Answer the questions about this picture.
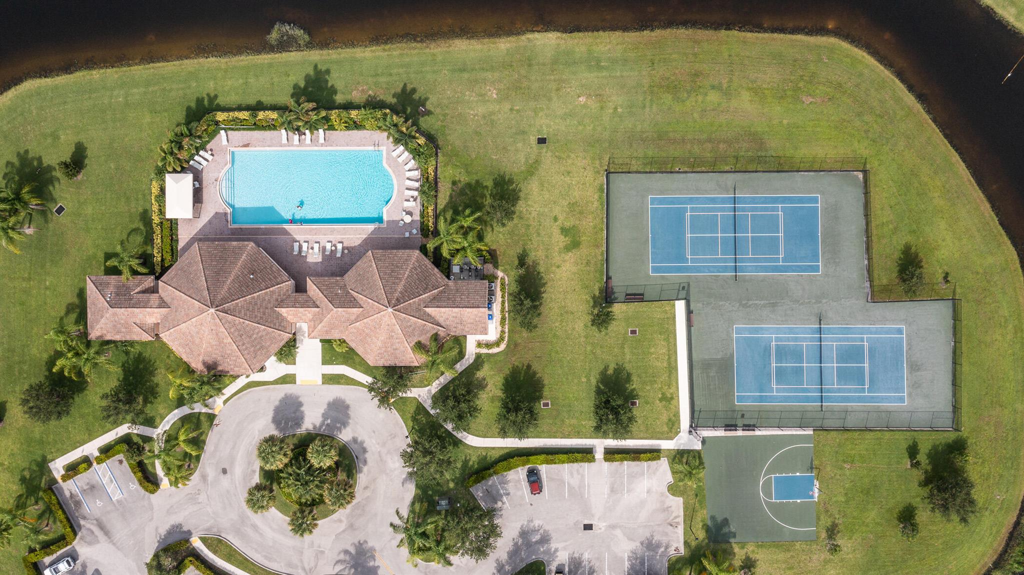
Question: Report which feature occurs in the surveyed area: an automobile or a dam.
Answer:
automobile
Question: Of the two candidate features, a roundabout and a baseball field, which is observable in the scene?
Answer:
roundabout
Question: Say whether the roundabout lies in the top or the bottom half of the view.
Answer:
bottom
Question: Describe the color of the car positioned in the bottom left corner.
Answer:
white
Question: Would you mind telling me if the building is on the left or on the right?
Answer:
left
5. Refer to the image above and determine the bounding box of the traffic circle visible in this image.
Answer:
[257,430,360,522]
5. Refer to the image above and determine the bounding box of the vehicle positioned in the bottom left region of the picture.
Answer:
[43,555,77,575]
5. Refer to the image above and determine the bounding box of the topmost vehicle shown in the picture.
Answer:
[526,466,542,496]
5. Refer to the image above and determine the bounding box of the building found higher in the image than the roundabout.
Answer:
[86,241,488,374]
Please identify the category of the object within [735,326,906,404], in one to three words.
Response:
tennis court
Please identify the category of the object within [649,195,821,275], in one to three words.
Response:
tennis court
